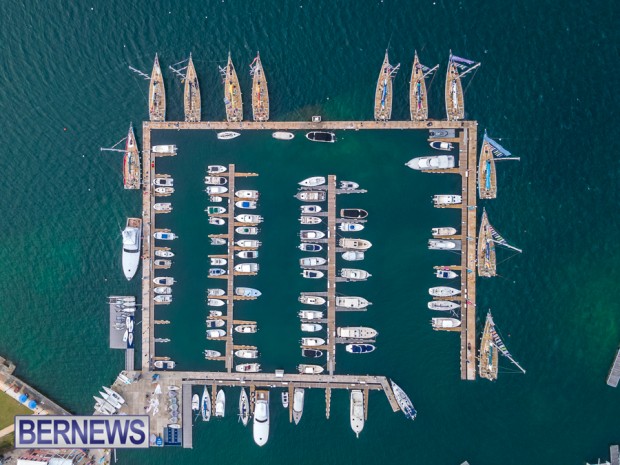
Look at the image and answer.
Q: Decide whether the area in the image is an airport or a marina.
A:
marina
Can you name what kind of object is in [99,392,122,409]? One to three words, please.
boat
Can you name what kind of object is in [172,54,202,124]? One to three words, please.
boat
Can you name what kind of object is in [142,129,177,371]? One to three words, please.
pier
